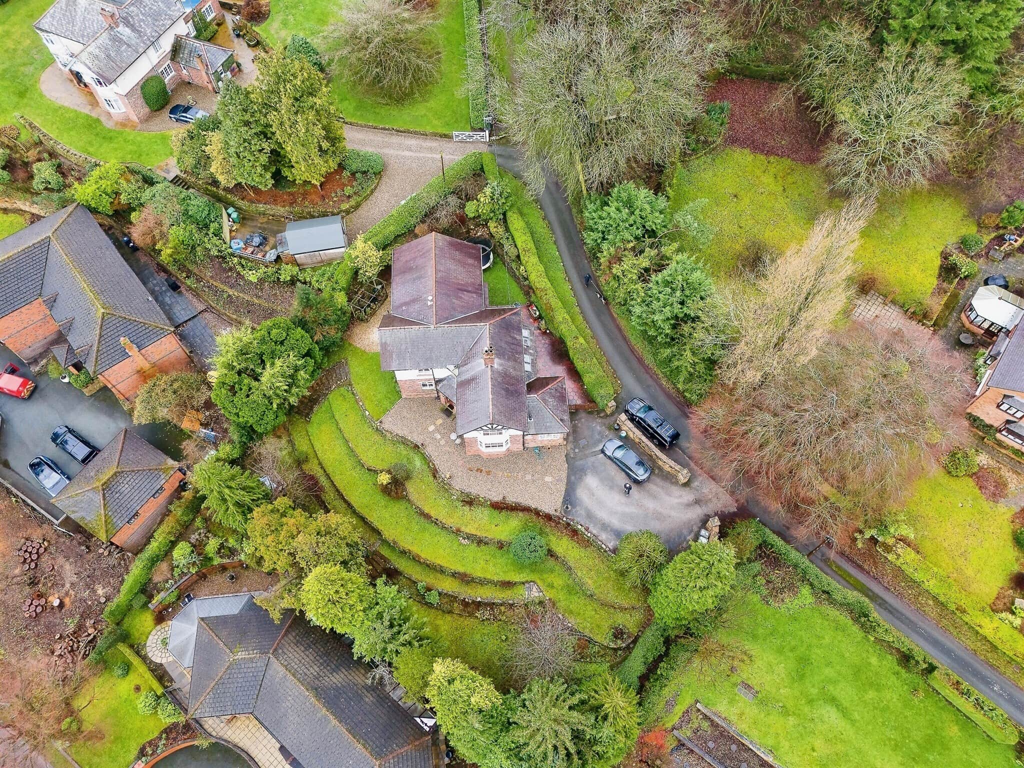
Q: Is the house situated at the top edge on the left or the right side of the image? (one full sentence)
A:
It is on the left.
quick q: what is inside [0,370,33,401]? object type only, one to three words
van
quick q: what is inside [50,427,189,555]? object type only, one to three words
building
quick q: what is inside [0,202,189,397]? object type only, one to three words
house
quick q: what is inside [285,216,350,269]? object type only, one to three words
shed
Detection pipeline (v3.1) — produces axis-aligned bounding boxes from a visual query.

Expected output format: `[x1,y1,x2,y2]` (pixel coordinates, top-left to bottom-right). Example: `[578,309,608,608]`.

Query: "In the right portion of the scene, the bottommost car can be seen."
[600,436,659,489]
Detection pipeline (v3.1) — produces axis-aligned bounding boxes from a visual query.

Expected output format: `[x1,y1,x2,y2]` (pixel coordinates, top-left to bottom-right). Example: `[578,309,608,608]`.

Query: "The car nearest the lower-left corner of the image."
[26,456,71,509]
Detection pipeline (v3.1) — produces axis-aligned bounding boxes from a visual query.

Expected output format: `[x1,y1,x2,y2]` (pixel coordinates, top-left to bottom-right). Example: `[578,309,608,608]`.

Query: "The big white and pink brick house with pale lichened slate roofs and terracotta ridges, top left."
[21,0,239,129]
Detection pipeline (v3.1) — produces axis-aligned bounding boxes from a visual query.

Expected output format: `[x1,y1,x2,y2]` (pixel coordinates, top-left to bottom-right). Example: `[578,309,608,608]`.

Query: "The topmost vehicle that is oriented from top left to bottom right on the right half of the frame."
[624,398,684,452]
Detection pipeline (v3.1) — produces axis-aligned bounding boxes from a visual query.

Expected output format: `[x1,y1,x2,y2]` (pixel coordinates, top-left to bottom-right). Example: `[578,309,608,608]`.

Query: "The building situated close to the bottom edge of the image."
[168,593,443,768]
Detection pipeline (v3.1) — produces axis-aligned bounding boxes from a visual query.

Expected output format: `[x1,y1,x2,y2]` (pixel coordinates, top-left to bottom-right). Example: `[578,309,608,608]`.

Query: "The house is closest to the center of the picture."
[379,231,571,468]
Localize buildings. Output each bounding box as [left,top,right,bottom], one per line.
[0,202,189,397]
[50,427,189,555]
[379,231,571,468]
[285,216,350,269]
[958,285,1024,447]
[21,0,239,129]
[168,593,443,768]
